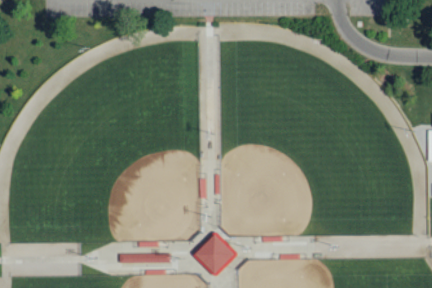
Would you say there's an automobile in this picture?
No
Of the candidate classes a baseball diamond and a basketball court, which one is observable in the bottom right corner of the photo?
baseball diamond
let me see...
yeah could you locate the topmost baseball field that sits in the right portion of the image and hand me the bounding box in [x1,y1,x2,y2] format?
[221,41,414,236]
